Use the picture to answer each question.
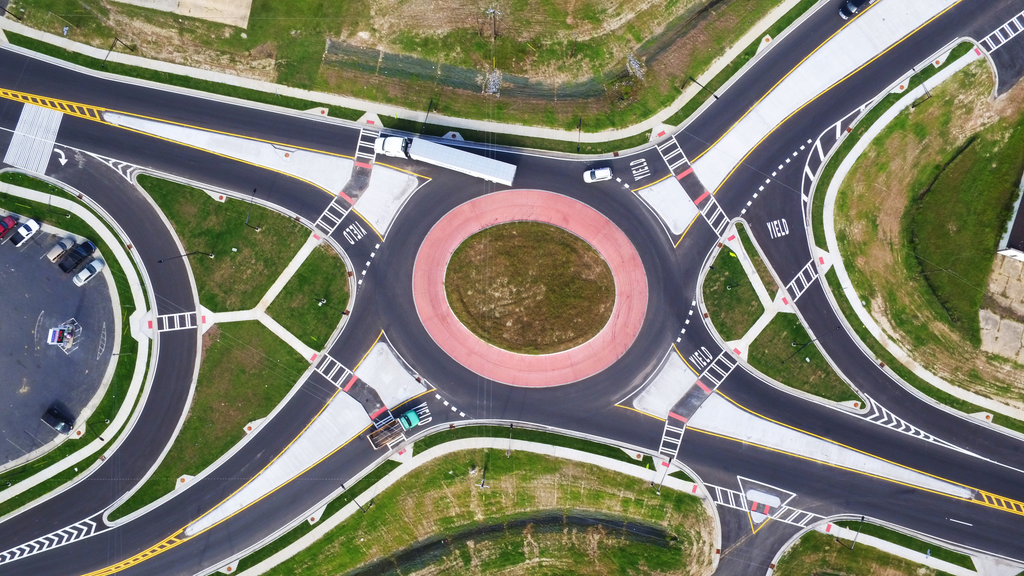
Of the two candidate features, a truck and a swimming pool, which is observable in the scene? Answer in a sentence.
I can see a truck in this picture.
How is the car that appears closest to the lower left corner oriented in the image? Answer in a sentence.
The car that appears closest to the lower left corner is oriented at an angle.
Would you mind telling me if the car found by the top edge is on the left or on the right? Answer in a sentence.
You can find the car found by the top edge on the right side of the picture.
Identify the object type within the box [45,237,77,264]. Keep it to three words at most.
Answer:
car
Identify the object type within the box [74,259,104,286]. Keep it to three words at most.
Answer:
car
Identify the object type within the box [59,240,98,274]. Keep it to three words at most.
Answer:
truck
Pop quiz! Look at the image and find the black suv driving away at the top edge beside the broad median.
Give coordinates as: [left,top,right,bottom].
[838,0,869,20]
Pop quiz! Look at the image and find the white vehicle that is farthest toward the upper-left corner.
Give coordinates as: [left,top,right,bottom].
[9,216,44,248]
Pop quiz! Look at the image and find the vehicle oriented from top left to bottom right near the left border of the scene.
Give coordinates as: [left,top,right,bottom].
[40,407,73,433]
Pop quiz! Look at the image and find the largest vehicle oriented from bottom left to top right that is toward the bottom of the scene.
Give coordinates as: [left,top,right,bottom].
[362,408,424,449]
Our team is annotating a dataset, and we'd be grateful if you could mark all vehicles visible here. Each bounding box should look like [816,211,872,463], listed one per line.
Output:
[380,128,516,185]
[40,407,73,433]
[0,216,19,243]
[9,216,44,248]
[582,168,613,184]
[838,0,869,20]
[74,259,104,286]
[362,408,424,449]
[59,240,98,274]
[45,237,77,264]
